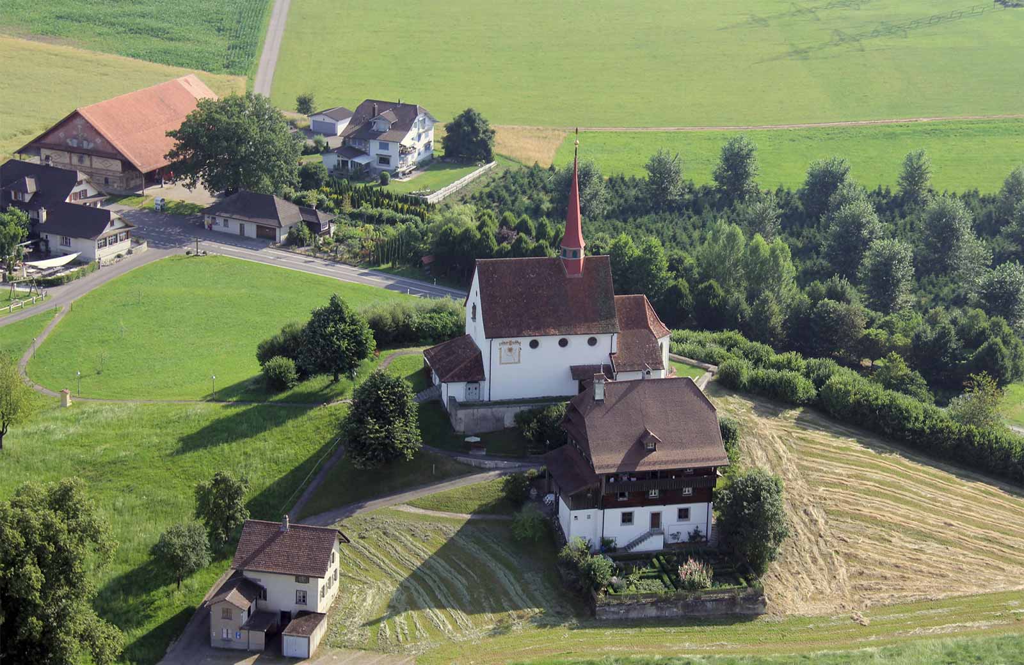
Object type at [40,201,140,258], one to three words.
house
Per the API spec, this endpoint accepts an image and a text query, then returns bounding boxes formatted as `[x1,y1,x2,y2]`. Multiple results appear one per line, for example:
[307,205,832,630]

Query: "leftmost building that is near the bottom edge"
[205,511,350,657]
